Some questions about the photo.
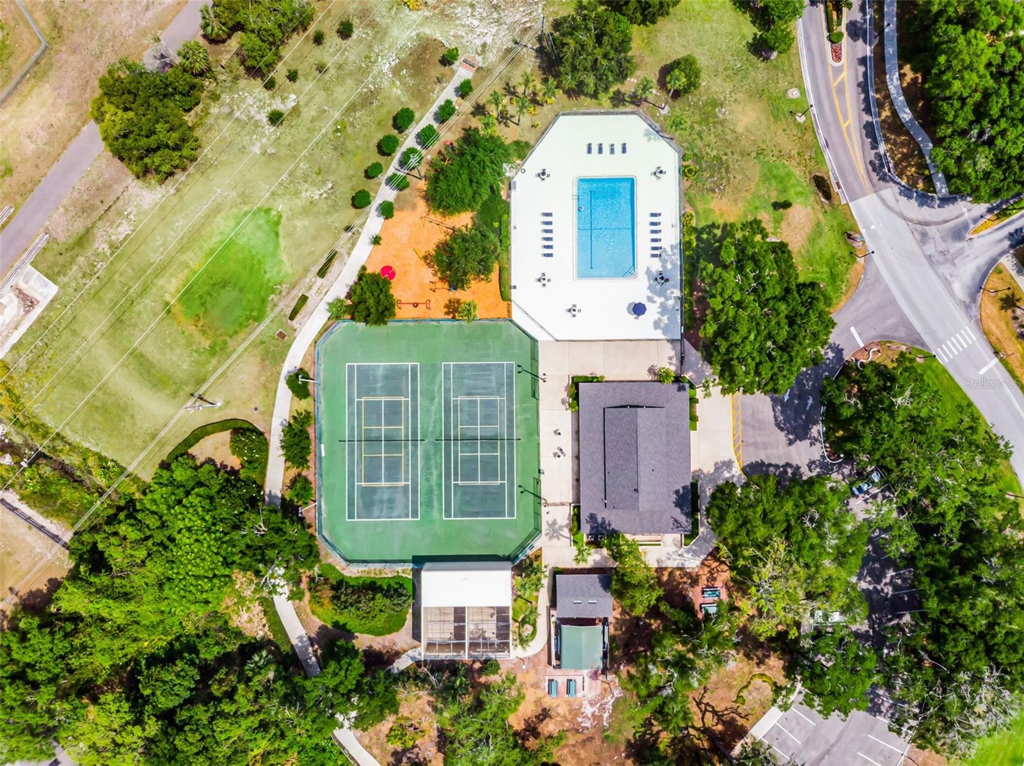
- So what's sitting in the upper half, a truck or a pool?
pool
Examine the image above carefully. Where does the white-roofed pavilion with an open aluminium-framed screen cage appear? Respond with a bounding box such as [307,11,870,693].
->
[420,559,511,660]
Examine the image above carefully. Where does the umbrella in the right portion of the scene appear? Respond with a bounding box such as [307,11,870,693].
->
[631,302,645,316]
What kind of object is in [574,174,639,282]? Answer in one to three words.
swimming pool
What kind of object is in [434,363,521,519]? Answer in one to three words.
tennis court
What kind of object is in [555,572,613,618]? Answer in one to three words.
building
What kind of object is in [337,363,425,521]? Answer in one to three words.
tennis court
